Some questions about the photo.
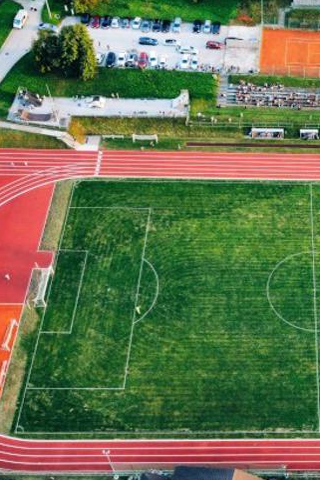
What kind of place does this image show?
sports ground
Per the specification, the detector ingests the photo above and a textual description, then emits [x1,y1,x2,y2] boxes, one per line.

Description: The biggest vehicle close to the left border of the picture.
[11,6,25,28]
